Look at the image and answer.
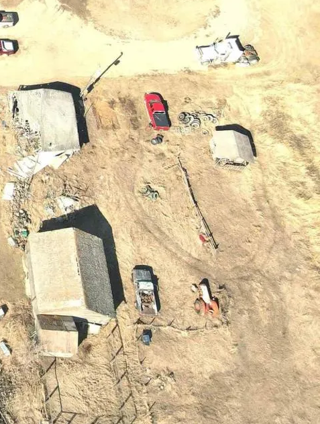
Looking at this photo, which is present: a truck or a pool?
truck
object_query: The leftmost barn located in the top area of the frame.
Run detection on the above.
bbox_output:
[3,88,80,193]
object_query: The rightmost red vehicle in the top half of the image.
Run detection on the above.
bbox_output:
[143,92,173,131]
